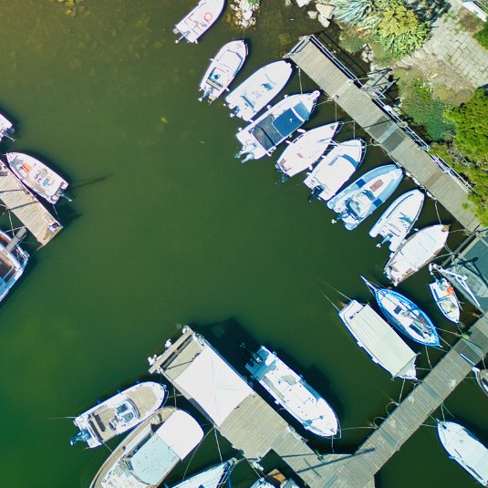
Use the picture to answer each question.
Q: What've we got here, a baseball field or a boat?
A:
boat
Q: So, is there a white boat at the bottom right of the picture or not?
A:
Yes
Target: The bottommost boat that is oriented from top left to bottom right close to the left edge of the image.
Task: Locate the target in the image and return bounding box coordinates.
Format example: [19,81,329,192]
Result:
[7,153,69,203]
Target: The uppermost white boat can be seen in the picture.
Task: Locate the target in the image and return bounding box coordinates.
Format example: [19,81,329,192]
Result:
[175,0,226,44]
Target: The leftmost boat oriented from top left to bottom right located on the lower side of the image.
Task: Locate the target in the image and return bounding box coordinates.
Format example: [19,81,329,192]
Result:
[235,337,342,439]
